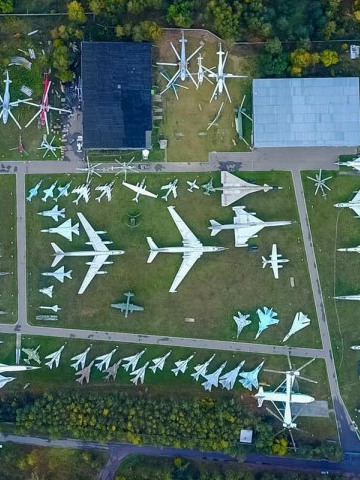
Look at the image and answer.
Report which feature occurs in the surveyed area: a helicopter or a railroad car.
helicopter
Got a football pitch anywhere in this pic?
No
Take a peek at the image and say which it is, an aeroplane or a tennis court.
aeroplane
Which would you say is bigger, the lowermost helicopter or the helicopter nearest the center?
the lowermost helicopter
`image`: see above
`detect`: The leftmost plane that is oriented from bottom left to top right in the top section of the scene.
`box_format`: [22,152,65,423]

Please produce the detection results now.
[25,181,43,203]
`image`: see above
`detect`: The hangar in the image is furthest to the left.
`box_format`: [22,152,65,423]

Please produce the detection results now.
[81,42,152,150]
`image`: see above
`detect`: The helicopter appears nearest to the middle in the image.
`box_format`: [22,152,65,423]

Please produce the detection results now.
[110,158,139,181]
